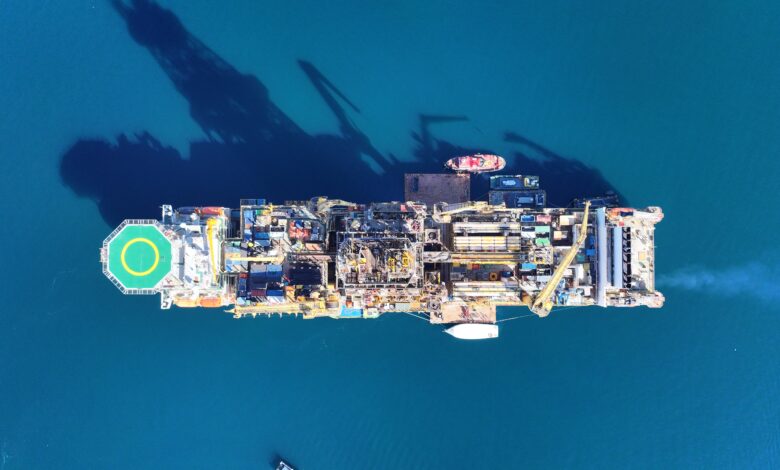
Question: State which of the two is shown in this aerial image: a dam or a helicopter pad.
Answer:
helicopter pad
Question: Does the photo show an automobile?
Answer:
No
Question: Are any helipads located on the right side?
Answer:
No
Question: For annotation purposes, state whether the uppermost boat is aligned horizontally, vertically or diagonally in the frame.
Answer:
horizontally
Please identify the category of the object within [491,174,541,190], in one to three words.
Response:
boat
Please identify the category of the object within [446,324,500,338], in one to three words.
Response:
boat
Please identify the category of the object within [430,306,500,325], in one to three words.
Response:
ship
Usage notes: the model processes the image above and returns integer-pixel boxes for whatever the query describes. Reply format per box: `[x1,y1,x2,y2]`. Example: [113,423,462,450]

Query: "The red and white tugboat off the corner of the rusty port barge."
[446,152,507,174]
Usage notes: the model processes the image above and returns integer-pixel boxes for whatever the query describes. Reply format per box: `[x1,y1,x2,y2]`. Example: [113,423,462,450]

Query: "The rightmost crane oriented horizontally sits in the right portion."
[475,200,599,214]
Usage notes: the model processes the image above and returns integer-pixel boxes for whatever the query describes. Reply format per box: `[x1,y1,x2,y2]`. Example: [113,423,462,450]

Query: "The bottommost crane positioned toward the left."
[229,290,340,315]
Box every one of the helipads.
[100,218,187,295]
